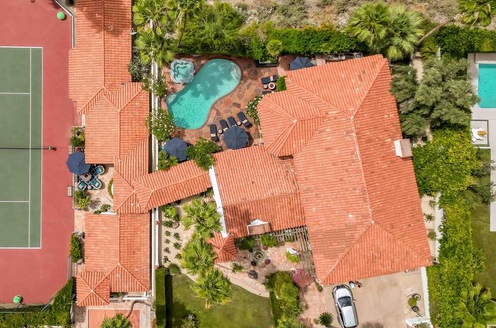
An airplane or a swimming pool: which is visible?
swimming pool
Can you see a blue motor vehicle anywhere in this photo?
No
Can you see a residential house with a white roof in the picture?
No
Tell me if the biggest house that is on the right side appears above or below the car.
above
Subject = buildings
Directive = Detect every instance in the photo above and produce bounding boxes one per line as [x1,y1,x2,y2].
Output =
[209,54,431,286]
[69,0,150,307]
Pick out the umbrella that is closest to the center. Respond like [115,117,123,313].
[223,123,249,149]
